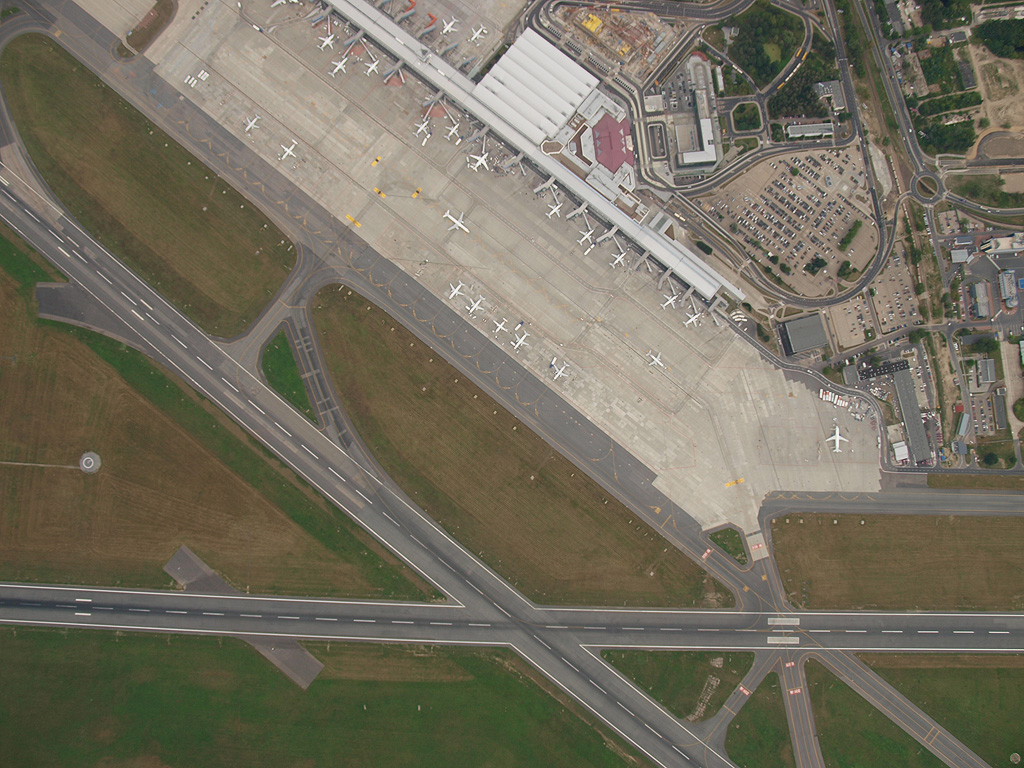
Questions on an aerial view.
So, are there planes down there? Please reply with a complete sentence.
Yes, this view includes a plane.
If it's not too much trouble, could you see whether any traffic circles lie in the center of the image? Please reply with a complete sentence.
No, no traffic circle is visible in the center of the image.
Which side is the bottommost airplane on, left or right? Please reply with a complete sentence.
The bottommost airplane is on the right side of the image.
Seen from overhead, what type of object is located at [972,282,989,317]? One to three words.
building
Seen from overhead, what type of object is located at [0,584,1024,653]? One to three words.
runway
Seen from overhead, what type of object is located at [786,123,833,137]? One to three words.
building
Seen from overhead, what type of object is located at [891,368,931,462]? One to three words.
hangar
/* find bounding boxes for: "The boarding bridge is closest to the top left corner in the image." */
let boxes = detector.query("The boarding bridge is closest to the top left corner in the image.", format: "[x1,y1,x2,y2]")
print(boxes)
[311,5,333,35]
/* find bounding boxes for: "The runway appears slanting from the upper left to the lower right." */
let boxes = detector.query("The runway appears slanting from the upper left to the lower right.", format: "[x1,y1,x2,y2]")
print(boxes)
[0,160,738,768]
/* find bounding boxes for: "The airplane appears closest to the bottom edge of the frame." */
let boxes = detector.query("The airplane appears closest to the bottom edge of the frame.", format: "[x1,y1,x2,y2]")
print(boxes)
[827,426,848,453]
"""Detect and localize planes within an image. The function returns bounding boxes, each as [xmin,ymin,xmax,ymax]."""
[442,15,460,34]
[554,361,570,380]
[514,330,531,349]
[493,317,508,332]
[444,124,459,140]
[545,203,562,219]
[318,35,334,51]
[609,253,626,269]
[443,209,470,233]
[245,113,262,132]
[827,426,848,453]
[449,280,464,299]
[576,229,594,245]
[363,61,379,76]
[327,58,347,78]
[470,294,486,314]
[645,349,666,369]
[471,24,486,41]
[660,293,681,311]
[412,121,428,137]
[682,313,701,328]
[278,138,297,160]
[469,153,488,174]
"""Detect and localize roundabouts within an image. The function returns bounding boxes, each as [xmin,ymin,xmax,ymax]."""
[910,171,943,205]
